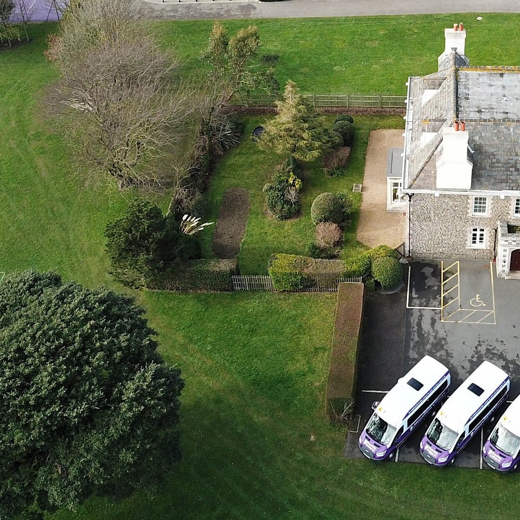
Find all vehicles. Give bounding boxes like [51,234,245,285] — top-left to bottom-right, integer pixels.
[417,360,511,474]
[358,355,453,467]
[478,392,520,479]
